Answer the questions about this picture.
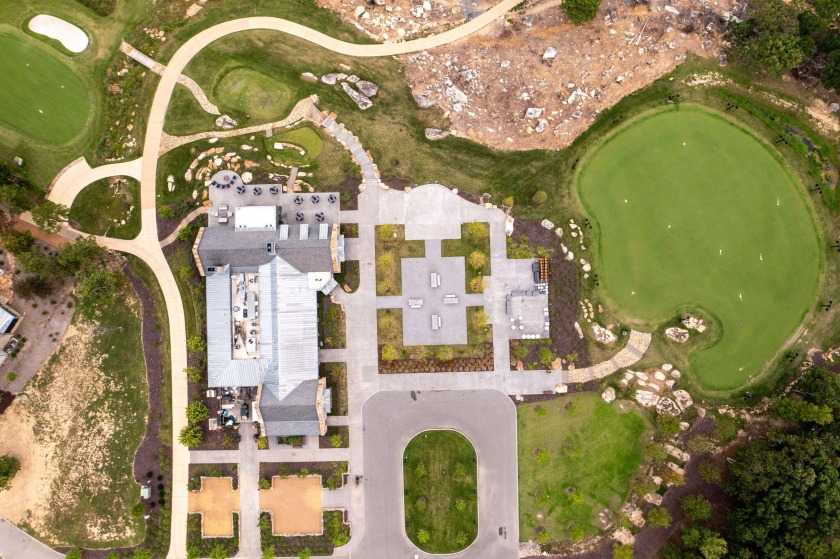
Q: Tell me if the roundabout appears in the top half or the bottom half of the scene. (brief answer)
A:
bottom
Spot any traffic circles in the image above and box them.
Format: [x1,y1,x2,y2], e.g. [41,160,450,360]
[357,391,518,559]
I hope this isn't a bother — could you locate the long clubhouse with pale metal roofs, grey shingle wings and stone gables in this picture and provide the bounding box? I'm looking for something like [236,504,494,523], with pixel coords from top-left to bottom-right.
[188,206,345,437]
